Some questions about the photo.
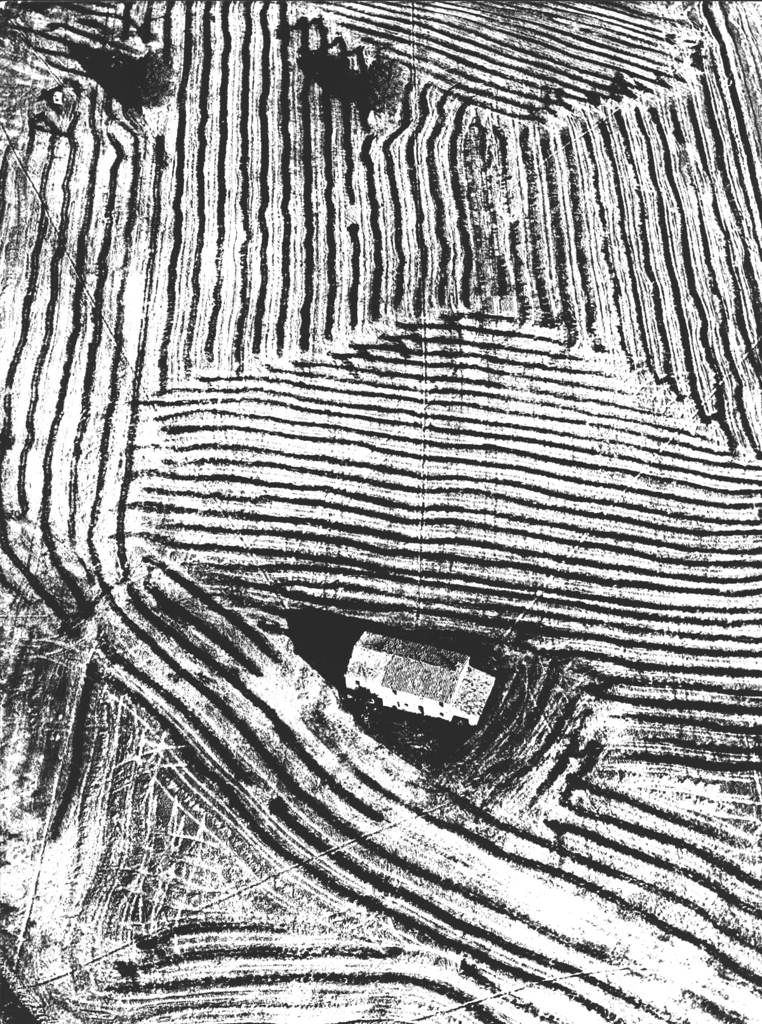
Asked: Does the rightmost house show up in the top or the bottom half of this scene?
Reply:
bottom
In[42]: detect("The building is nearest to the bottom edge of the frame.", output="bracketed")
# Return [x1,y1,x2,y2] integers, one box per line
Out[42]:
[344,631,497,727]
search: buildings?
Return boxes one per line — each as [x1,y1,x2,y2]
[53,90,66,107]
[344,631,497,727]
